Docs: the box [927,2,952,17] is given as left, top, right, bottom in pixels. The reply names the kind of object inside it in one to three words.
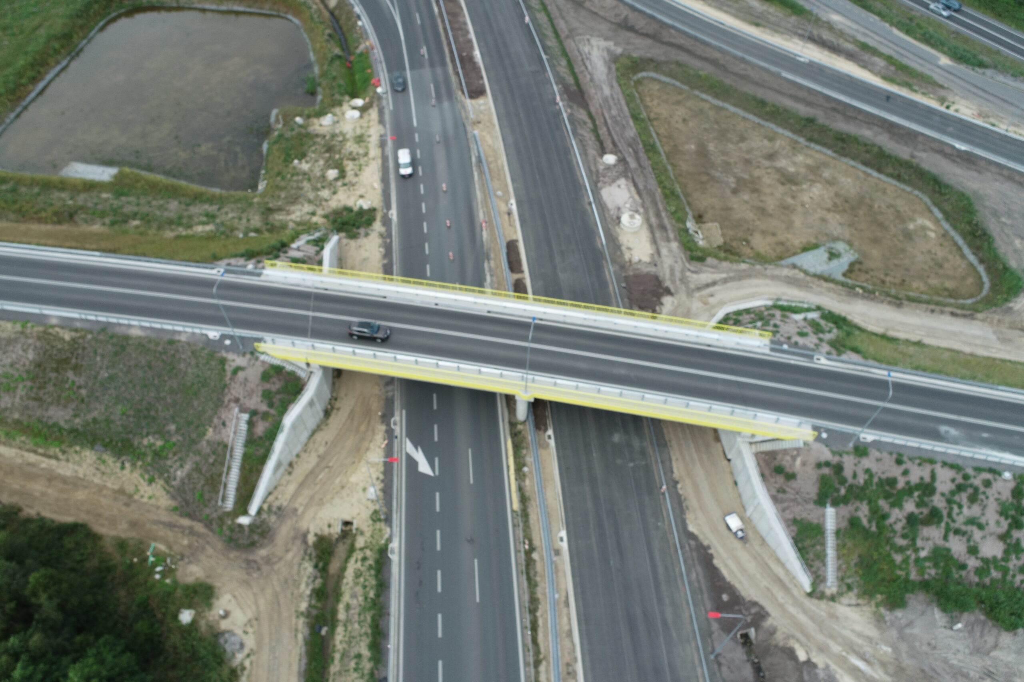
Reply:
car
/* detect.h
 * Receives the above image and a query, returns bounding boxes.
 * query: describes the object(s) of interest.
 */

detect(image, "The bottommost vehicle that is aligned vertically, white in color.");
[398,148,413,178]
